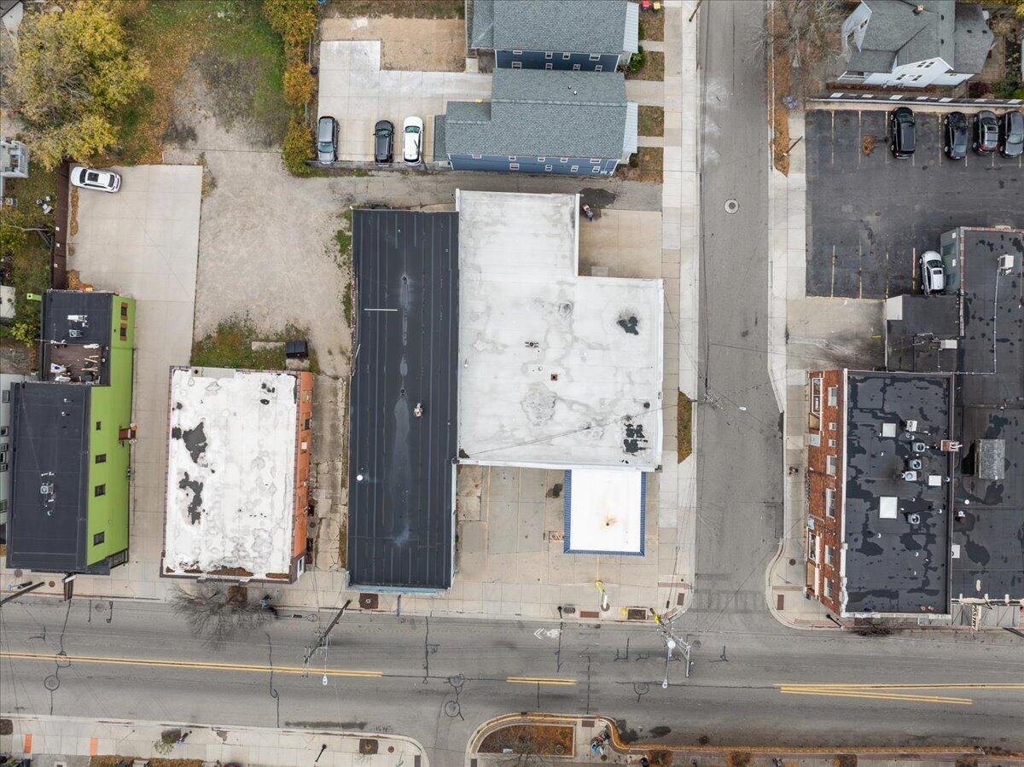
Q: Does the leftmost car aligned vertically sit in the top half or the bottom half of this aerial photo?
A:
top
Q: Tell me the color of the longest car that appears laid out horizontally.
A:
white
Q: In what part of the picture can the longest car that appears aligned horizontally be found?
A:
top left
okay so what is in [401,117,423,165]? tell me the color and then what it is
white car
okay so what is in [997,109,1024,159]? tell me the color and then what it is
gray car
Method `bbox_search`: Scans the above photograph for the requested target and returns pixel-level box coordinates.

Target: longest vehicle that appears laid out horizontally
[70,164,121,191]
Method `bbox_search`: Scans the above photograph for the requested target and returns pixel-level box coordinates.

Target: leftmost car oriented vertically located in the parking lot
[315,114,339,165]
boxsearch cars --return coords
[315,114,339,165]
[919,251,946,295]
[401,117,423,165]
[372,118,395,165]
[997,109,1024,159]
[942,110,968,160]
[70,164,121,191]
[889,107,917,158]
[971,110,998,157]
